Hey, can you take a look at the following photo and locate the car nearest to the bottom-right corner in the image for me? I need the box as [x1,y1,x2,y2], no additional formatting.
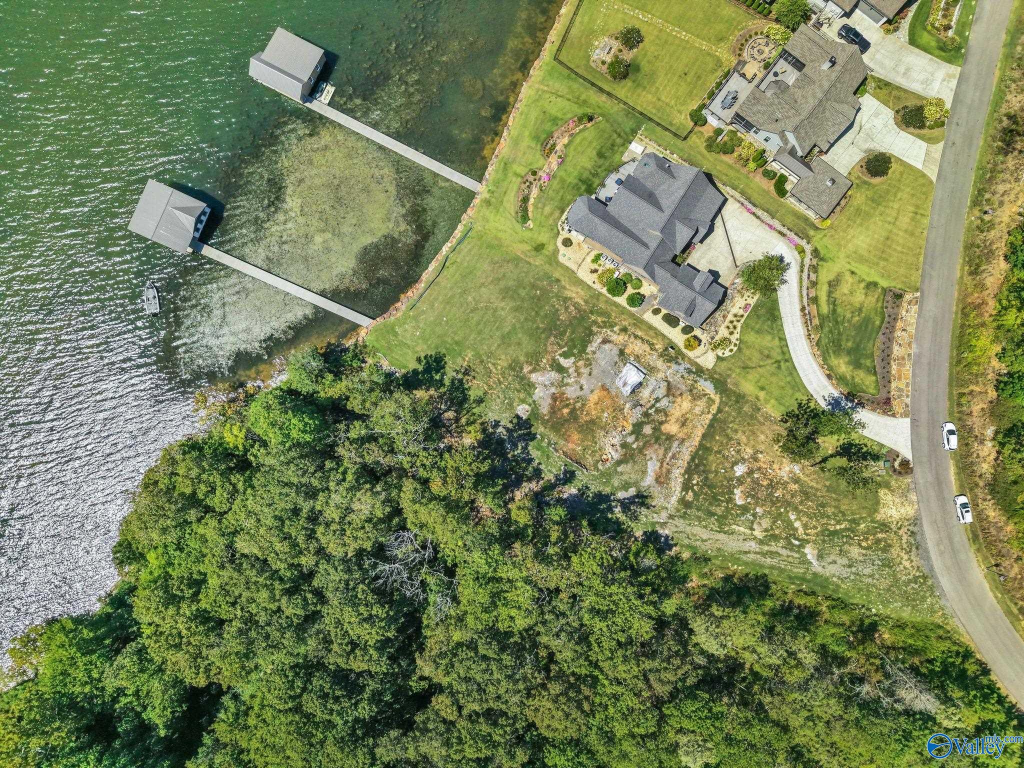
[952,494,972,526]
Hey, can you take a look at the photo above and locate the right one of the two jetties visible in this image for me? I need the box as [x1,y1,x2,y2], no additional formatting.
[307,100,478,192]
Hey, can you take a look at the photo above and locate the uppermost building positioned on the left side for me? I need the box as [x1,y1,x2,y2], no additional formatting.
[246,27,333,105]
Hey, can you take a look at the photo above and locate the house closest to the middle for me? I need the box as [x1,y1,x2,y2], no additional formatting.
[566,151,726,327]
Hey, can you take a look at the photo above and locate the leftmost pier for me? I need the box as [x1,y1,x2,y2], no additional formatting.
[200,245,374,328]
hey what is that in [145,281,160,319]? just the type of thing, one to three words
boat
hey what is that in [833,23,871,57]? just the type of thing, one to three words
truck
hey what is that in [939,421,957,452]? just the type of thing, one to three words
car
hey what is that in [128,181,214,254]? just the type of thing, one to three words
building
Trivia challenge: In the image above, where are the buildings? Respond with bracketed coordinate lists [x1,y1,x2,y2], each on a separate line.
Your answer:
[246,27,333,105]
[733,27,866,182]
[128,181,214,254]
[832,0,907,24]
[566,151,726,327]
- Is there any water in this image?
Yes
